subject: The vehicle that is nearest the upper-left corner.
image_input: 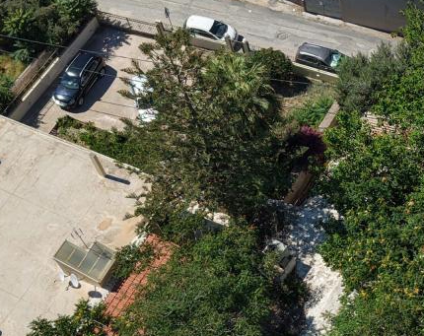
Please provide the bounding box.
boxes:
[52,48,103,111]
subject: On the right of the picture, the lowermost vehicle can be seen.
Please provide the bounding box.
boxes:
[287,37,355,76]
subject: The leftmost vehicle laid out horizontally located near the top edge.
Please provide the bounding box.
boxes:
[178,9,245,48]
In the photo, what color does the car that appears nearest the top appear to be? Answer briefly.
white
